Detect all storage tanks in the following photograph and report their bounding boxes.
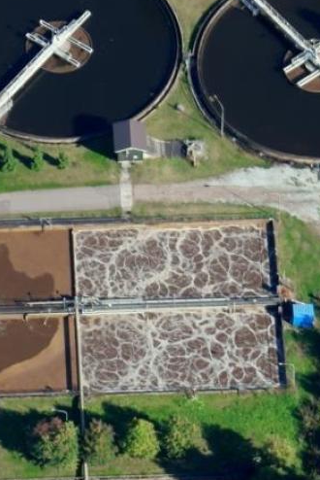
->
[0,0,181,145]
[193,0,320,165]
